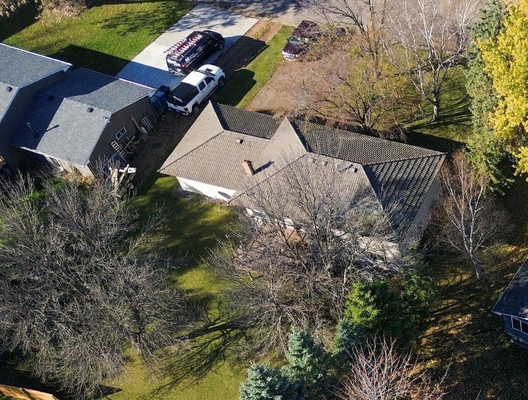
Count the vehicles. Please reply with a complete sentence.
The picture shows 3 vehicles.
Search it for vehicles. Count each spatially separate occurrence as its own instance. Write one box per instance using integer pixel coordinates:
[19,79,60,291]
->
[163,37,228,79]
[280,17,327,57]
[161,73,229,120]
